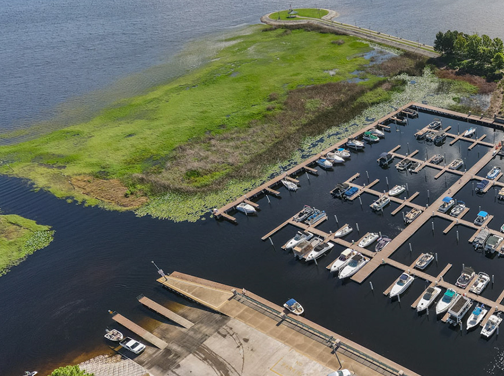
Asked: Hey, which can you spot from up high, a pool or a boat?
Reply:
boat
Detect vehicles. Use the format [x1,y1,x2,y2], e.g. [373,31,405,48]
[330,371,350,376]
[119,339,147,352]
